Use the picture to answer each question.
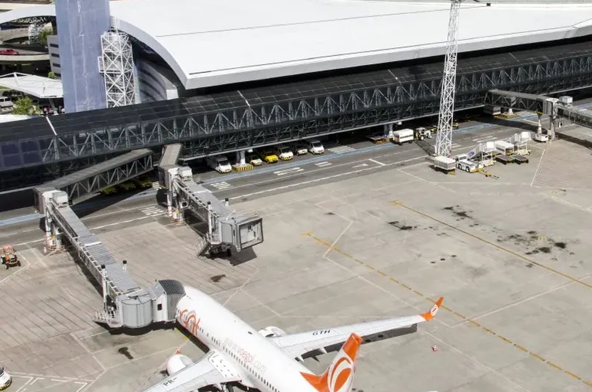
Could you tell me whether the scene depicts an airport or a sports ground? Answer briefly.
airport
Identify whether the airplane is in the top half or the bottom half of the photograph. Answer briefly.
bottom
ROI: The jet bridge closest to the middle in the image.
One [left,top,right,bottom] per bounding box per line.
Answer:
[155,140,270,261]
